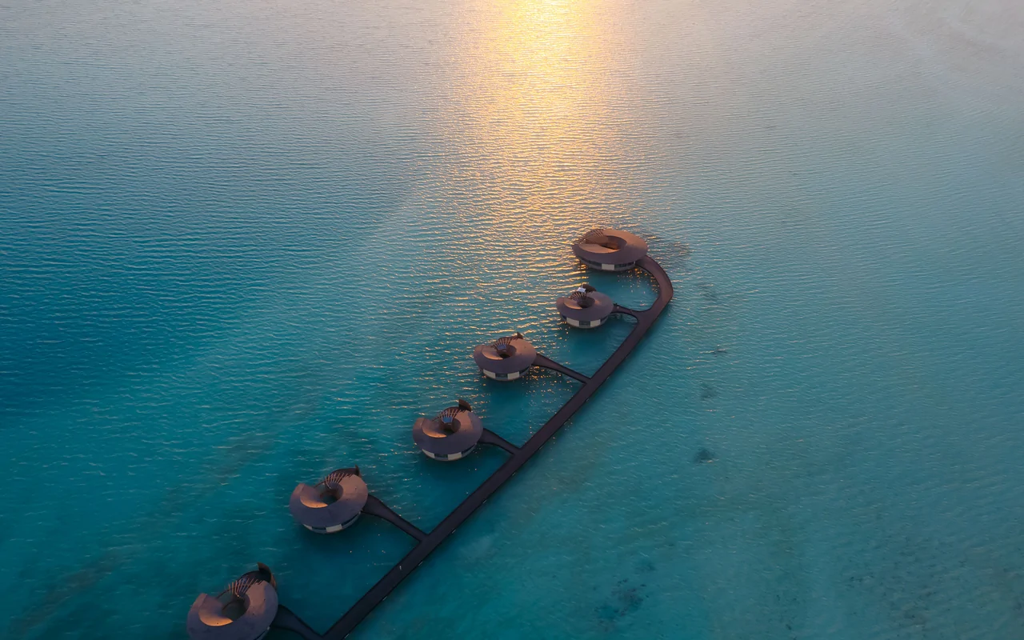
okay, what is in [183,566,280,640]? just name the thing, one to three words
house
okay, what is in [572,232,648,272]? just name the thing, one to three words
house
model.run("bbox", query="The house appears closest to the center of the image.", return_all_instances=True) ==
[473,333,537,383]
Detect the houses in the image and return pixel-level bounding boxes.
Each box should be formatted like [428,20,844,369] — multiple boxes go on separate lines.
[556,284,614,330]
[572,232,648,272]
[288,465,369,537]
[412,400,484,465]
[473,333,537,383]
[183,566,280,640]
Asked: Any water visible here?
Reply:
Yes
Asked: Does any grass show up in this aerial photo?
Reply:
No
